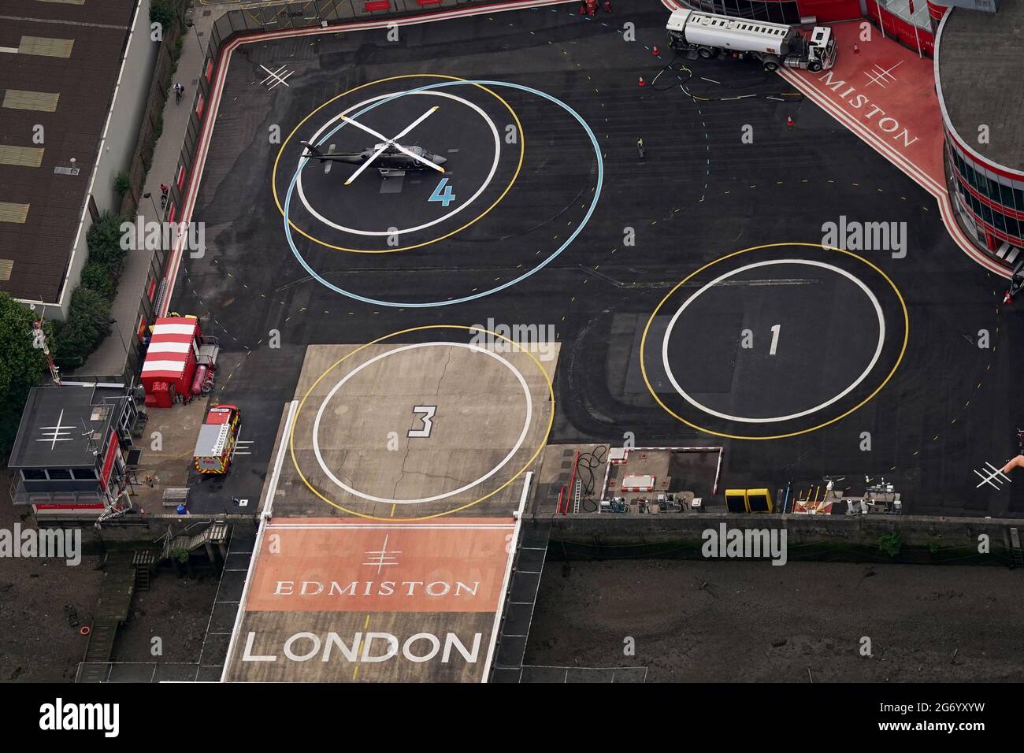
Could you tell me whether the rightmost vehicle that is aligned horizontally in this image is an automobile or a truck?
truck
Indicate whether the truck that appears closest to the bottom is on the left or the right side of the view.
left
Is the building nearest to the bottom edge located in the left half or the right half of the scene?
left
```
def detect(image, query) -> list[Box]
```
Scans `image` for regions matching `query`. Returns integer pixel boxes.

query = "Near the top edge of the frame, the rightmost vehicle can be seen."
[665,9,836,71]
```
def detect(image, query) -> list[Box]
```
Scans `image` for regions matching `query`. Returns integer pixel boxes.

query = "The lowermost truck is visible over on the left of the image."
[194,404,241,474]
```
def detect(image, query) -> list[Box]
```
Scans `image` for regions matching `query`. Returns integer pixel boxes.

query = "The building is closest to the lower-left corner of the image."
[8,386,127,517]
